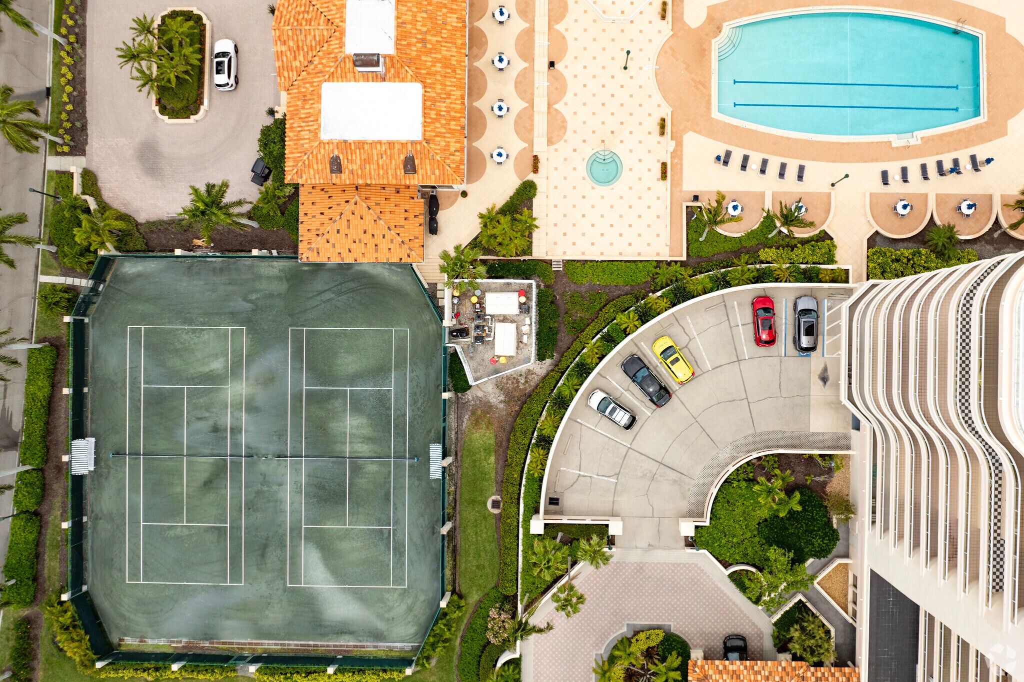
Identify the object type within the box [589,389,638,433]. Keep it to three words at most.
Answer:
car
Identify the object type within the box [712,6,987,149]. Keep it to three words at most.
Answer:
swimming pool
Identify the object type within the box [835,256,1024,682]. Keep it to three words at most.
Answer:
building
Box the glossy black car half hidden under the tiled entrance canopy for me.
[723,634,749,661]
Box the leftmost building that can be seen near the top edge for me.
[271,0,472,192]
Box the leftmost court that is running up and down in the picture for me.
[87,259,266,651]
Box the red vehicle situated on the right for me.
[750,296,777,346]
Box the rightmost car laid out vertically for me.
[792,295,821,353]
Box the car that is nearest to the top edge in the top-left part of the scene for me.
[214,39,242,92]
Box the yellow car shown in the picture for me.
[655,336,695,386]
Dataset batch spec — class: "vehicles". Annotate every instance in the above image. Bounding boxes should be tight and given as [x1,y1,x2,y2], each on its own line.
[623,352,671,409]
[792,295,821,353]
[655,336,695,386]
[214,39,242,92]
[723,634,749,661]
[589,389,638,433]
[247,157,272,186]
[750,296,777,346]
